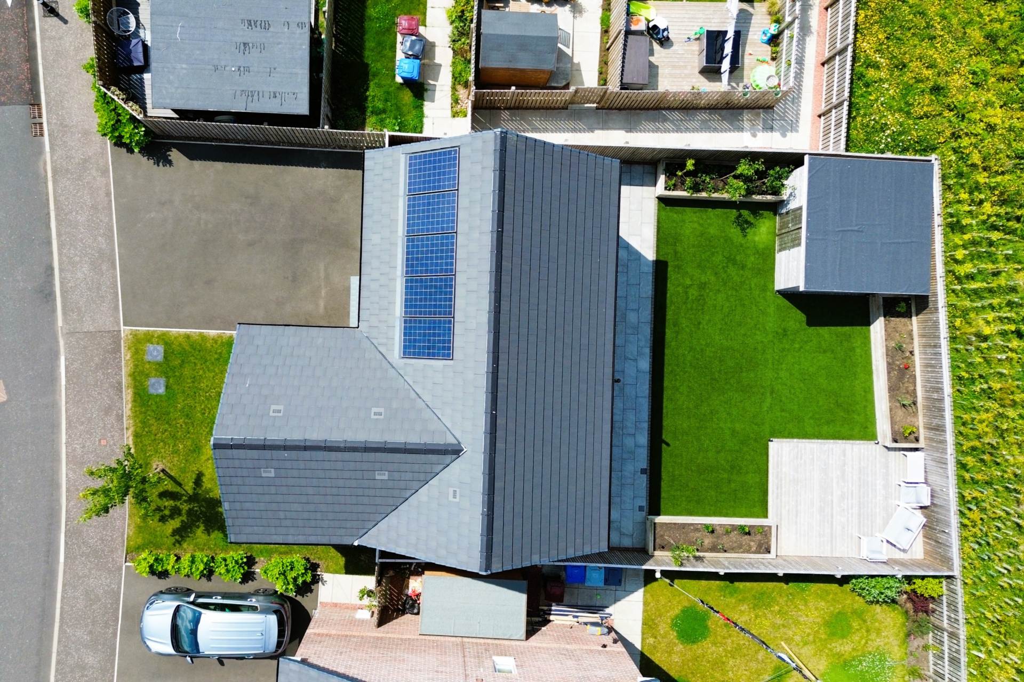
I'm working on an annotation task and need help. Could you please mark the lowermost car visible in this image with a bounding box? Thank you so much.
[136,588,293,665]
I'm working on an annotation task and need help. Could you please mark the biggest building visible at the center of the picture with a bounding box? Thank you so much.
[207,128,626,575]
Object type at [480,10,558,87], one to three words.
shed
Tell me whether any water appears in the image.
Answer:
No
